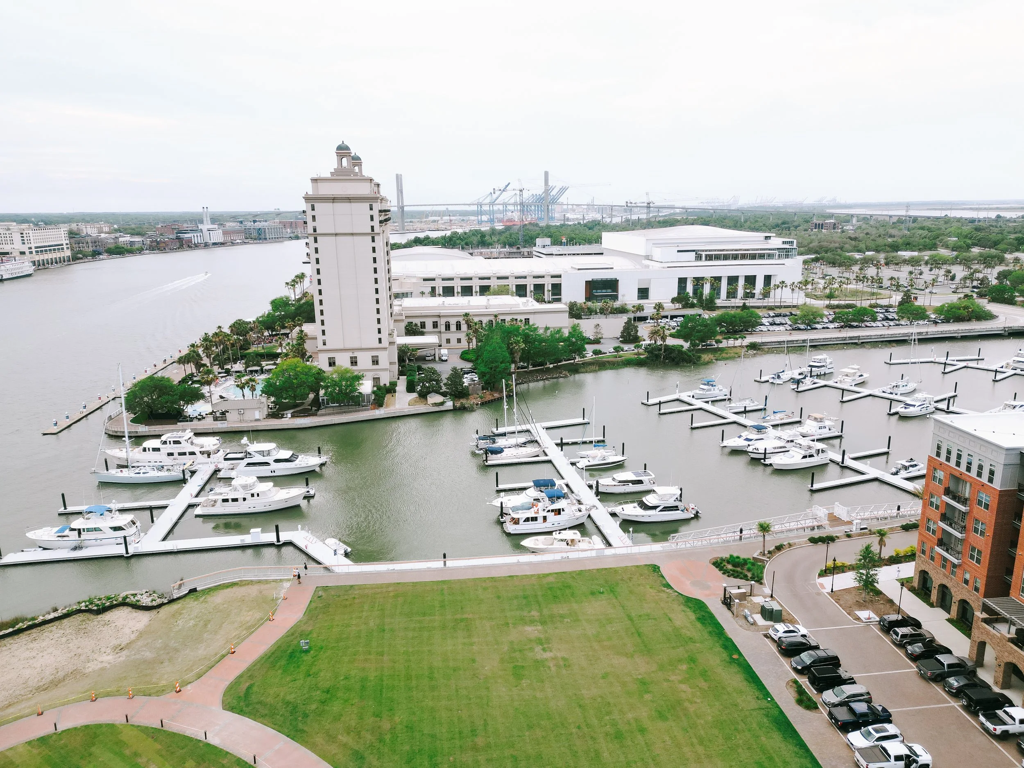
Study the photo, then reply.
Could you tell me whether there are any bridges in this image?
Yes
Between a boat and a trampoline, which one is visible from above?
boat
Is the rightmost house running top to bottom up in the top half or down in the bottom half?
bottom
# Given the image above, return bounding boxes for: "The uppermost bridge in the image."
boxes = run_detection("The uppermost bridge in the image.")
[108,171,1024,233]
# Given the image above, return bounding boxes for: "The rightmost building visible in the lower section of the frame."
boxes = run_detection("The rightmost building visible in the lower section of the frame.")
[913,412,1024,685]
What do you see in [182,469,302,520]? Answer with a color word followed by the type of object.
white boat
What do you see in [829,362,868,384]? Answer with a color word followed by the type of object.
white boat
